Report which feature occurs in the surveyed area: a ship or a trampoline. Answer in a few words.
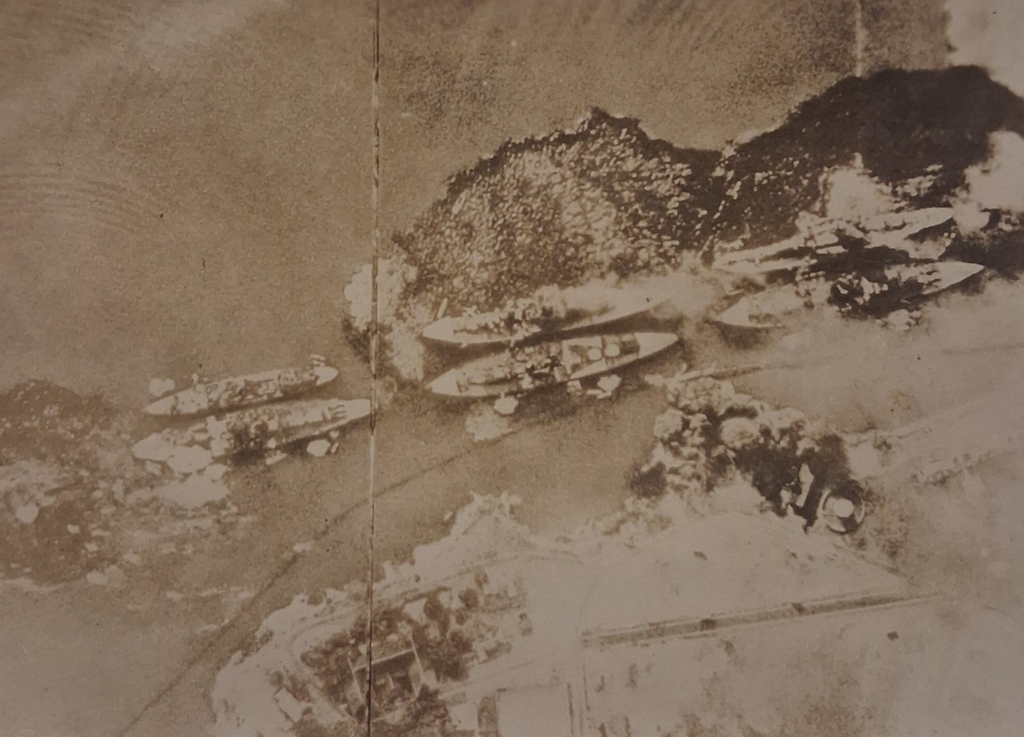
ship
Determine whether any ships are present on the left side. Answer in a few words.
Yes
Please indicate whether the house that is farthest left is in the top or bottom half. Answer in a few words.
bottom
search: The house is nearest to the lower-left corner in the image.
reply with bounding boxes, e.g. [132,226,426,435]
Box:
[275,685,309,721]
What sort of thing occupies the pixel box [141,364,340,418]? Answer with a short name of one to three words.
ship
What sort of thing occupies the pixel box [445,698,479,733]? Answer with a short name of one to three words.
building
